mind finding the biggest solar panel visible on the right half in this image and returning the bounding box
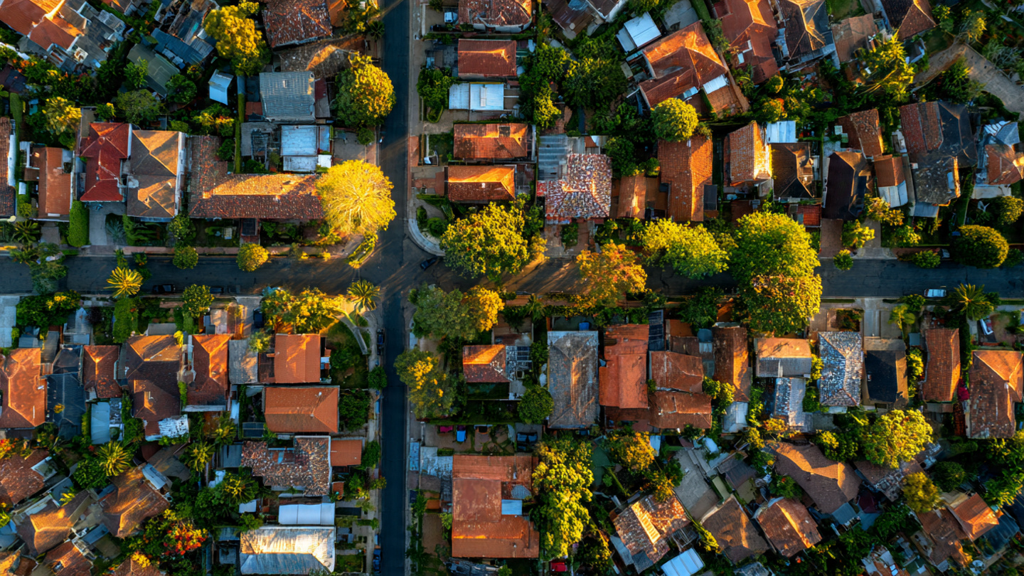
[650,310,664,351]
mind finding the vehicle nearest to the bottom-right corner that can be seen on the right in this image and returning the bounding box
[976,318,991,337]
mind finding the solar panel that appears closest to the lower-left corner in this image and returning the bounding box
[243,424,263,438]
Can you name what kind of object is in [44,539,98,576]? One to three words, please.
house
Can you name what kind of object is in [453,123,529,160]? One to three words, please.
house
